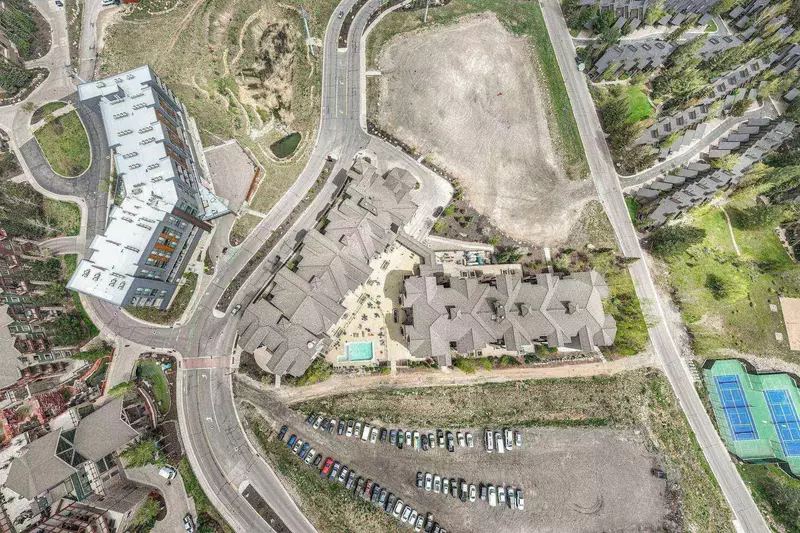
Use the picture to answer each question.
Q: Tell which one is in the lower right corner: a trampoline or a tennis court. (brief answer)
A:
tennis court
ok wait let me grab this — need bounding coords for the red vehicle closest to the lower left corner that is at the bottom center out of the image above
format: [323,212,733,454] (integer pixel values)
[320,457,333,478]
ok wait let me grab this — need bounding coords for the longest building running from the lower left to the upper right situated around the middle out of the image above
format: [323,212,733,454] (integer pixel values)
[230,156,419,385]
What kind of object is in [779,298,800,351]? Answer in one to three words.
sports court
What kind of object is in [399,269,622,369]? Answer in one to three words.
building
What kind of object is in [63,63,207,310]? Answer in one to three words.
building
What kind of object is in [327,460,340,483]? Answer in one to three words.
vehicle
